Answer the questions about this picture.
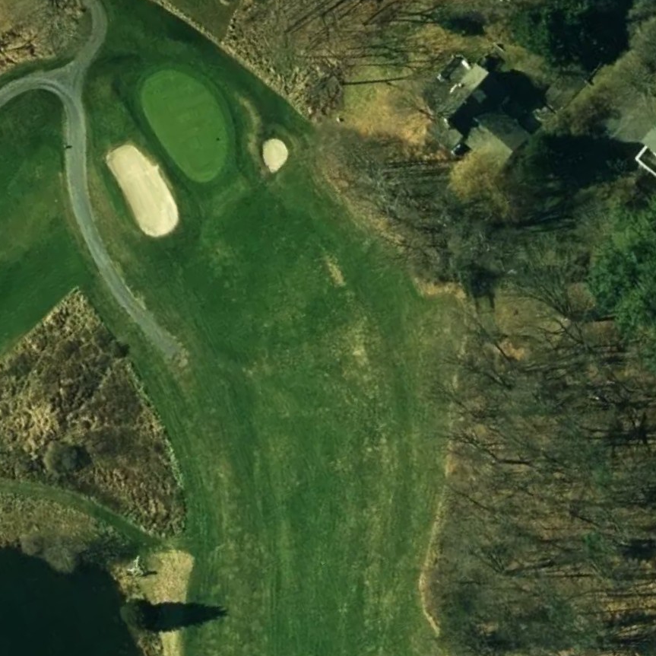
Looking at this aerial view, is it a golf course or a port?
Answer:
golf course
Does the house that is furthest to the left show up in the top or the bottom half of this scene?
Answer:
top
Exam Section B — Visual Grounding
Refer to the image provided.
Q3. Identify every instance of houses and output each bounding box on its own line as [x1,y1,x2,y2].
[633,130,656,176]
[436,55,532,172]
